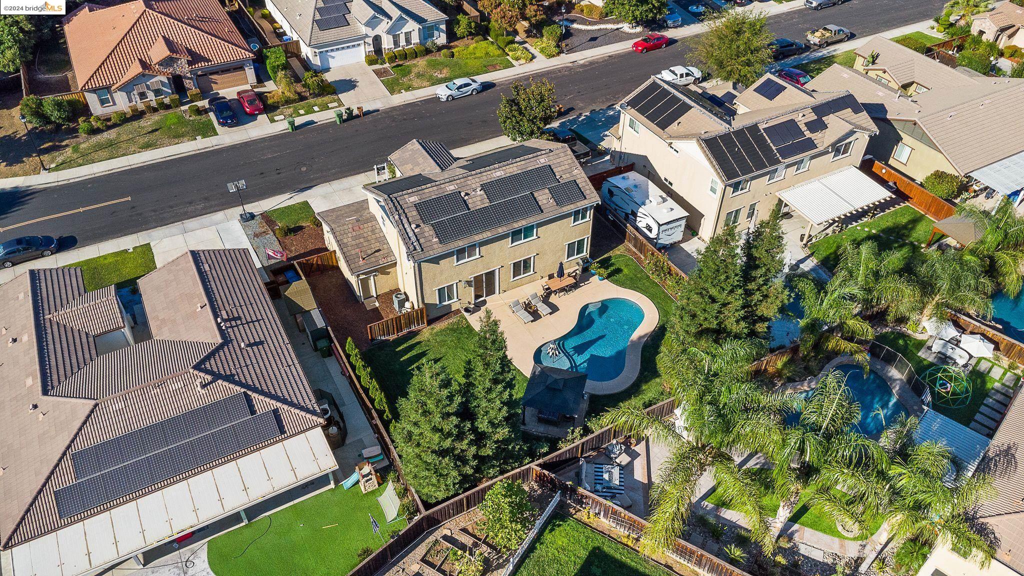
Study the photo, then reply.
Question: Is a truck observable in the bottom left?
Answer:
No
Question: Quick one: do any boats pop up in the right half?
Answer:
No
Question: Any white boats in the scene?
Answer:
No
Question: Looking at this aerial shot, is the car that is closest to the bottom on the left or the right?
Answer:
left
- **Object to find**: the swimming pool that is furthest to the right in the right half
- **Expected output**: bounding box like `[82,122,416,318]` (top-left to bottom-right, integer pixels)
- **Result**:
[961,272,1024,352]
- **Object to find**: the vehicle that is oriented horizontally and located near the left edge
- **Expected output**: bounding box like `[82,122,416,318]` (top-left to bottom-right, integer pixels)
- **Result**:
[0,232,60,265]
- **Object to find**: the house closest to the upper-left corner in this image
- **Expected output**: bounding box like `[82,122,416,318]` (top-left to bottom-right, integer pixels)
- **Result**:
[54,0,255,113]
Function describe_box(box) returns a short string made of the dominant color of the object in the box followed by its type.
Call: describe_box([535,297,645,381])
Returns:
blue swimming pool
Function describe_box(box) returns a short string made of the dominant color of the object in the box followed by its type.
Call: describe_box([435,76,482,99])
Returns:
white car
